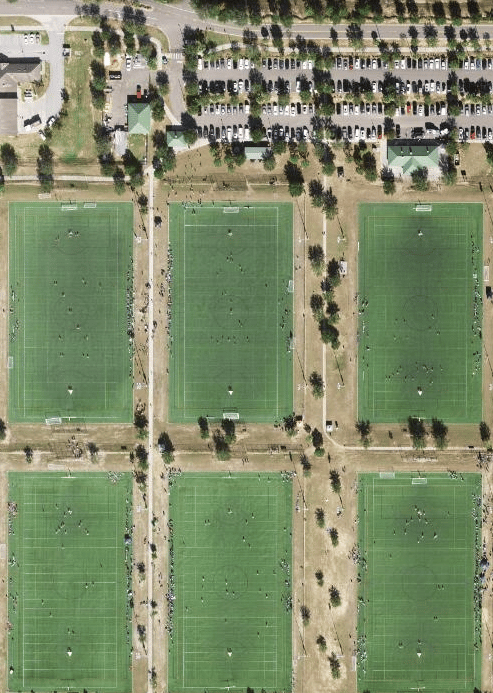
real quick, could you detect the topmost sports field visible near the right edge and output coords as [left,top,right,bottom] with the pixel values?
[358,202,484,424]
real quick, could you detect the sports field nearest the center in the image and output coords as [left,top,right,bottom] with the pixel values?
[169,201,294,423]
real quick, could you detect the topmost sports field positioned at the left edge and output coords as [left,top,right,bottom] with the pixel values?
[8,201,133,423]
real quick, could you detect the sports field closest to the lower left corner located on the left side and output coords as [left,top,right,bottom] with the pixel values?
[8,471,133,693]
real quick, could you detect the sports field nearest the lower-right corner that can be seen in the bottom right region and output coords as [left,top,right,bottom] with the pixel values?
[358,471,483,693]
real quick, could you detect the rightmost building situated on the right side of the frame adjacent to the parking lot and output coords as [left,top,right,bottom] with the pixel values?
[387,146,440,175]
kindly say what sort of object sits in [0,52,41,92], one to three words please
building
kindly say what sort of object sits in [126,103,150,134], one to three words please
building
